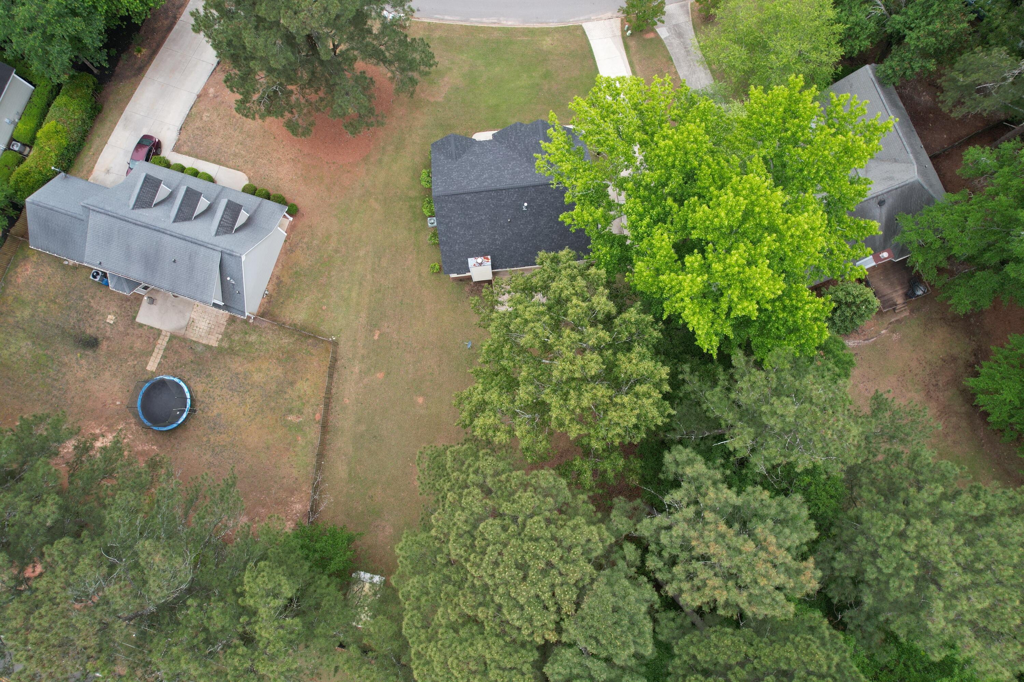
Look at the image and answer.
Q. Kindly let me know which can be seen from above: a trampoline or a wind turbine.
trampoline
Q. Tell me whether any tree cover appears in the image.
Yes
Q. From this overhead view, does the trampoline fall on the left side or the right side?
left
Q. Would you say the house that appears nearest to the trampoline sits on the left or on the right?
left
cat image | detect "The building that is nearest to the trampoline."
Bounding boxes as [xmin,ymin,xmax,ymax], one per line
[25,160,294,322]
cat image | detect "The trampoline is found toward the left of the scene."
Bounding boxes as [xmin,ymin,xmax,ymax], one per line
[126,377,198,432]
